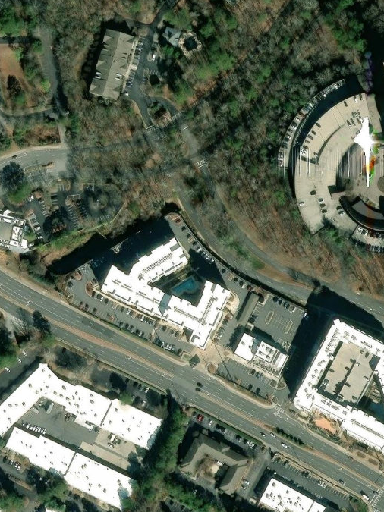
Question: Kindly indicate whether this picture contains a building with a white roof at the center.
Yes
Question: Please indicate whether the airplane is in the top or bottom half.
top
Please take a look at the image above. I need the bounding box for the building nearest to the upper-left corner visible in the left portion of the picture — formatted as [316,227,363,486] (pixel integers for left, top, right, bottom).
[89,27,135,102]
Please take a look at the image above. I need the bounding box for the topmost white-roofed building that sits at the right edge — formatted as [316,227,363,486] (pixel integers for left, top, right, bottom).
[295,319,384,455]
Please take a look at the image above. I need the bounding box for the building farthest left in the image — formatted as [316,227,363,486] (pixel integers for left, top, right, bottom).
[0,210,31,255]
